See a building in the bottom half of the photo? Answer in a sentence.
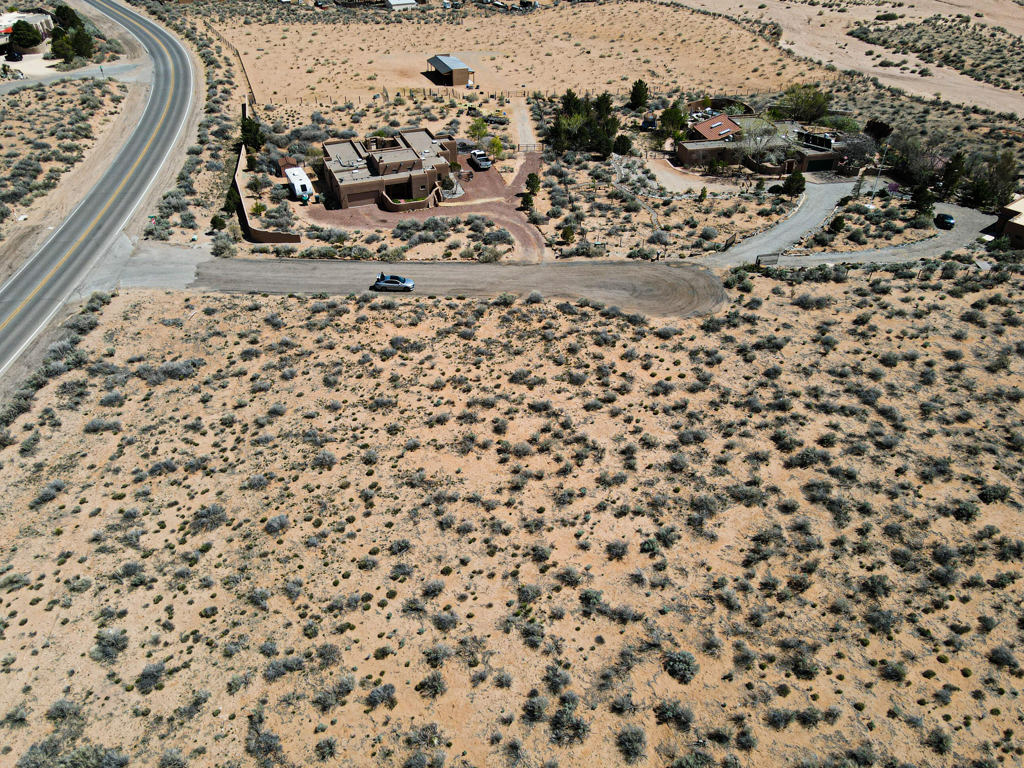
No, I can find no building in the bottom half of the photo.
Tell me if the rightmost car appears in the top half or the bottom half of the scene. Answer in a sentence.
The rightmost car sits in the top half of the picture.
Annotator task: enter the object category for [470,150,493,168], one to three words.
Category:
vehicle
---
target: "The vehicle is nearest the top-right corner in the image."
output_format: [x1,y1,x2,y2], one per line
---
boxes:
[935,207,959,230]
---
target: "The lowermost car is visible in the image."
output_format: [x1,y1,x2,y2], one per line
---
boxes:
[375,273,415,292]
